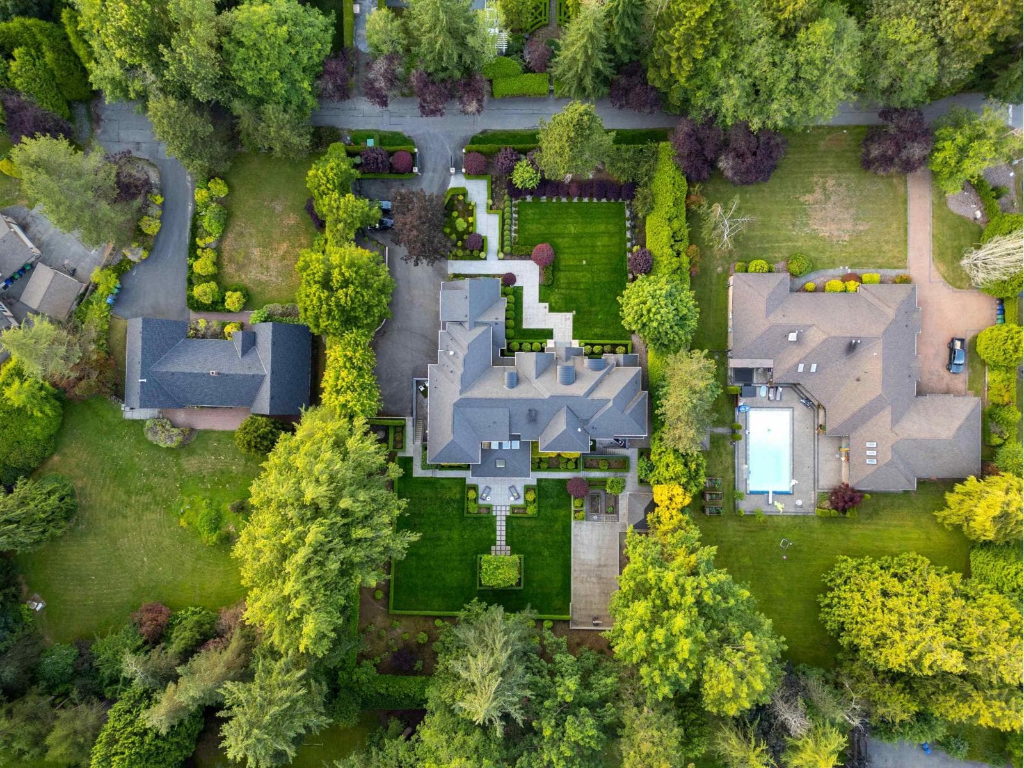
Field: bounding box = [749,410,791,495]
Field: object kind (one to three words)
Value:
swimming pool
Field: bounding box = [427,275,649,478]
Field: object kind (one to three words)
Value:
house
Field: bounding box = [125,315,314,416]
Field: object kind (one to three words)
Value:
house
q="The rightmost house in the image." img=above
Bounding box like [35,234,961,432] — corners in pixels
[730,272,981,491]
